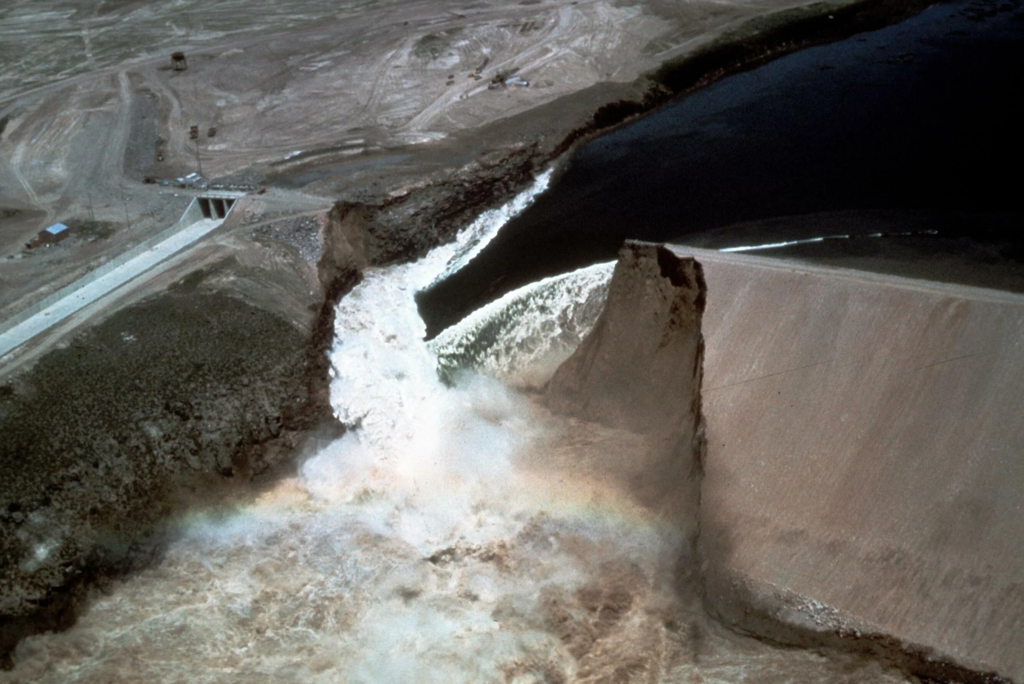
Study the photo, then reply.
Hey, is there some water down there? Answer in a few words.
Yes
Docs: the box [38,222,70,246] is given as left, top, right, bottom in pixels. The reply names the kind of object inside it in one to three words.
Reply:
shed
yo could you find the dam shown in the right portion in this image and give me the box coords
[546,235,1024,683]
